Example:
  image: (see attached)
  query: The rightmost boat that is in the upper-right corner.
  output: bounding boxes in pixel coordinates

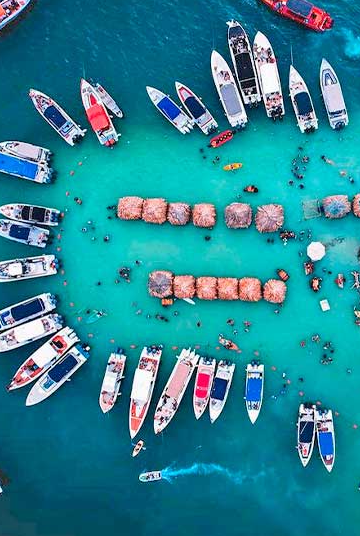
[320,58,347,130]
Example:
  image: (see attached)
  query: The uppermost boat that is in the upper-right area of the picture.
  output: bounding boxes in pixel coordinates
[260,0,333,32]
